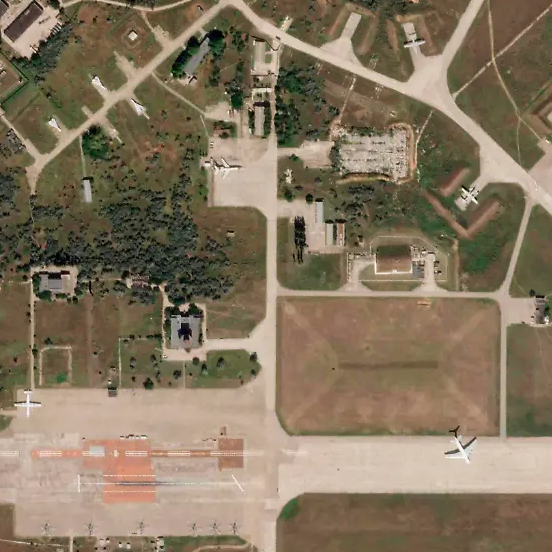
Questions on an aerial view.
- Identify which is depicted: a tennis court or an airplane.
airplane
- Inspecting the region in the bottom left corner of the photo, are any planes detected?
Yes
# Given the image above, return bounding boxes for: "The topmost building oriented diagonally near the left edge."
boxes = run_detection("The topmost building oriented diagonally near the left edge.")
[5,1,46,42]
